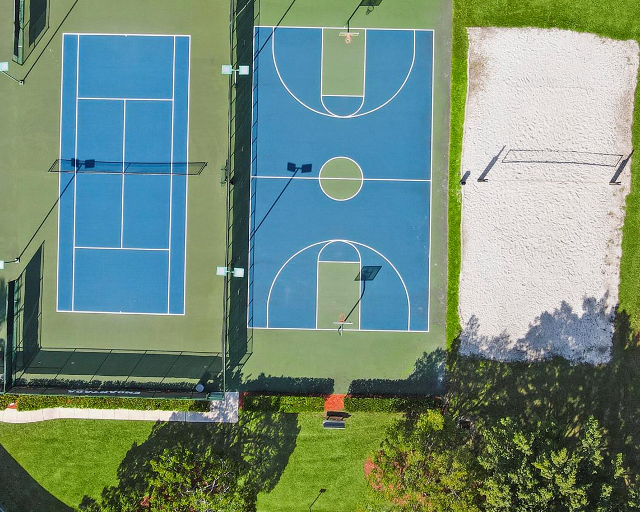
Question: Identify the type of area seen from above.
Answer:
sports ground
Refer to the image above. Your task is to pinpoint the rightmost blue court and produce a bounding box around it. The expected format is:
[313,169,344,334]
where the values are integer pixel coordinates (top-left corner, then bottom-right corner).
[225,0,453,395]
